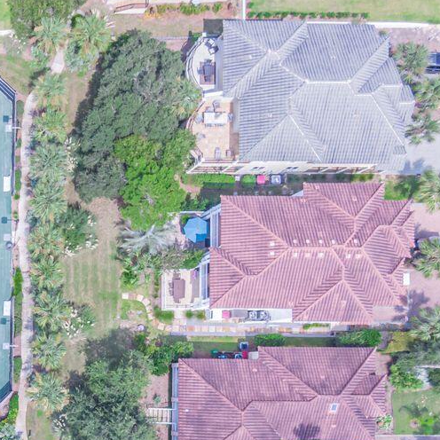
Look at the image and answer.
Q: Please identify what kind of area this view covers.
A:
residential area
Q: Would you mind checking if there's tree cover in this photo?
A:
Yes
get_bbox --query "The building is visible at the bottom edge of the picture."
[166,346,388,440]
